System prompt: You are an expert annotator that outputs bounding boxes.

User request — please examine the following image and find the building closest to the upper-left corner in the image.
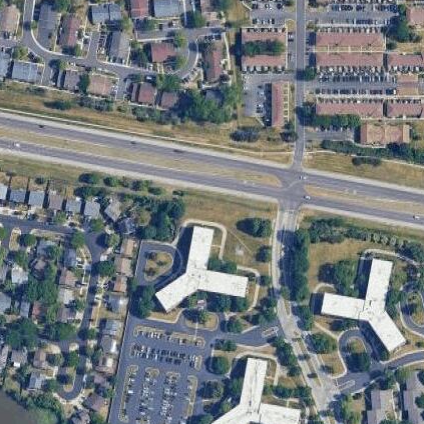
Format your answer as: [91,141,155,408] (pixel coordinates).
[0,4,21,35]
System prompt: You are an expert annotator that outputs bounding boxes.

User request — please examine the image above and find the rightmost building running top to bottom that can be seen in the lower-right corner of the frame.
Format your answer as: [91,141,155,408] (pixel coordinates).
[404,371,424,424]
